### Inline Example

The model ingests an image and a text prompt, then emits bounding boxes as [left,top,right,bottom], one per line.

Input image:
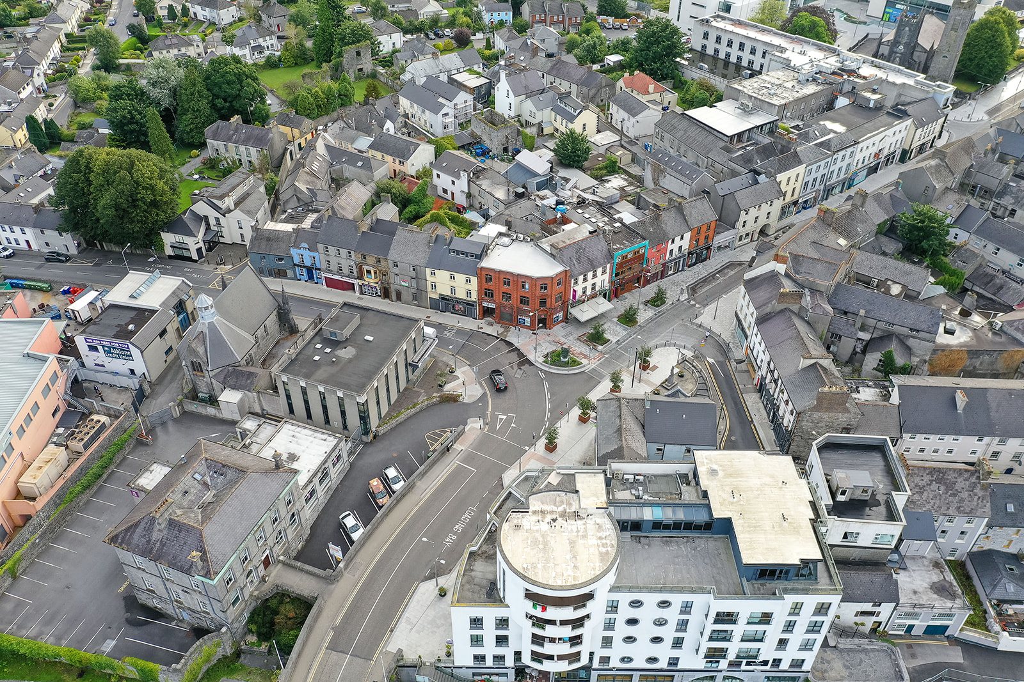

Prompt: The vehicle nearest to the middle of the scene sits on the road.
[489,366,509,389]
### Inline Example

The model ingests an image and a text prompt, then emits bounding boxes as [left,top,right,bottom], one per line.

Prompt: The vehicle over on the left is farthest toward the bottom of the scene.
[336,507,362,538]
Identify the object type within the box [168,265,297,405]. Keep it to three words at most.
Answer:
church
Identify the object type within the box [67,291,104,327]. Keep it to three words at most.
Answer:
trailer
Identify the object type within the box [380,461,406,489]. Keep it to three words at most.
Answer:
car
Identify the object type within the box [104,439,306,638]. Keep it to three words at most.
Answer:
building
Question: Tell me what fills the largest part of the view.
buildings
